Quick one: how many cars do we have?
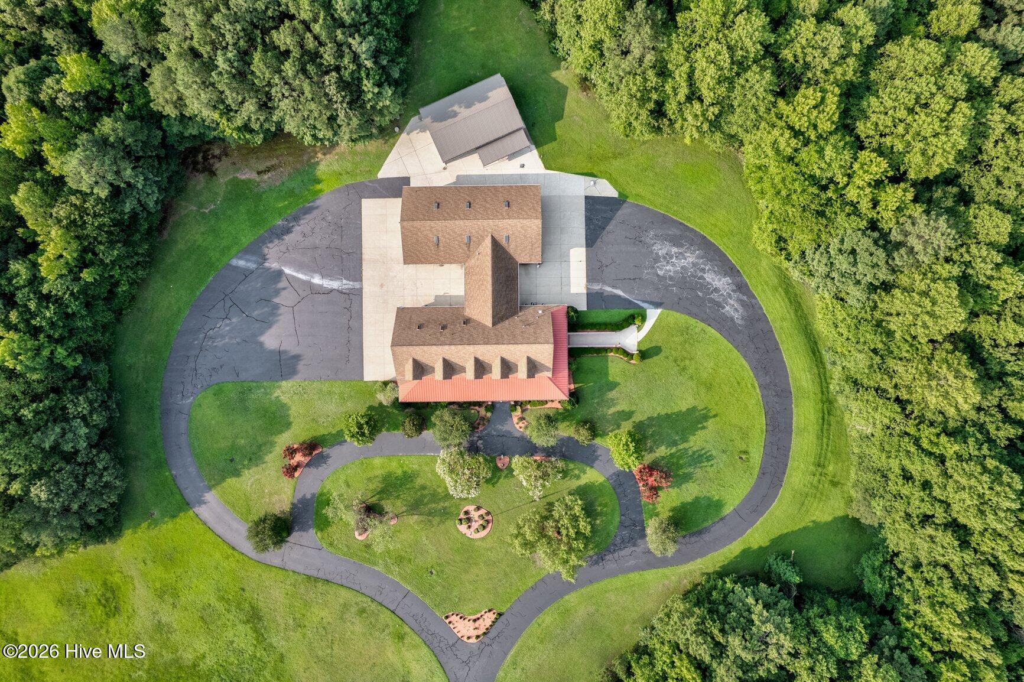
0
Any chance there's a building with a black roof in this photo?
No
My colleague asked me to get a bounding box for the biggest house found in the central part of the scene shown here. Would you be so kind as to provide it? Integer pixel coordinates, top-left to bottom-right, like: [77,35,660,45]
[391,184,569,402]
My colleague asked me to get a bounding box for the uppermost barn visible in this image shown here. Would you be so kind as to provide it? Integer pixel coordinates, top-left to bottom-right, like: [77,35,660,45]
[420,72,530,168]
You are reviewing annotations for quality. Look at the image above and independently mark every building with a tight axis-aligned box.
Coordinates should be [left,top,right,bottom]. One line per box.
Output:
[391,184,569,402]
[420,72,530,168]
